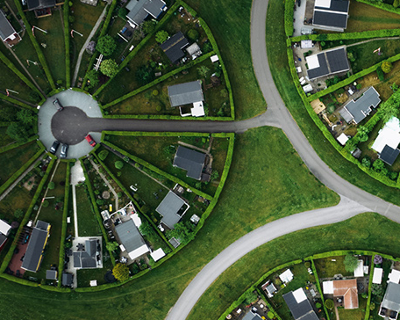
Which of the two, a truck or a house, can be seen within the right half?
house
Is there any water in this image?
No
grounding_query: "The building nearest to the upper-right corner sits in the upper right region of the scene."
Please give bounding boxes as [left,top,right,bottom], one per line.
[313,0,350,28]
